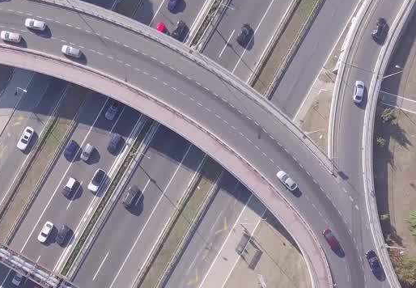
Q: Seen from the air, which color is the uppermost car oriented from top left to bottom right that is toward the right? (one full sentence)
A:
The color of the uppermost car oriented from top left to bottom right that is toward the right is white.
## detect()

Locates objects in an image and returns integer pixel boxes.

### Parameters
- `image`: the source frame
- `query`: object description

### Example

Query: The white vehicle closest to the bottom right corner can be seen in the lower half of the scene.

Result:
[276,170,297,191]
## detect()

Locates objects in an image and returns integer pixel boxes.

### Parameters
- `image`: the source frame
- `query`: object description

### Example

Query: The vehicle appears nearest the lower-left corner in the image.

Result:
[11,274,24,288]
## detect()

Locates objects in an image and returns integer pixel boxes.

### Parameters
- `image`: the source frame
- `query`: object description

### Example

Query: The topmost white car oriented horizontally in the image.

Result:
[24,18,46,31]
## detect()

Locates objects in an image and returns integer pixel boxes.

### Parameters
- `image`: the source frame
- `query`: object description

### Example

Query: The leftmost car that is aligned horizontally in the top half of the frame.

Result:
[0,31,22,43]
